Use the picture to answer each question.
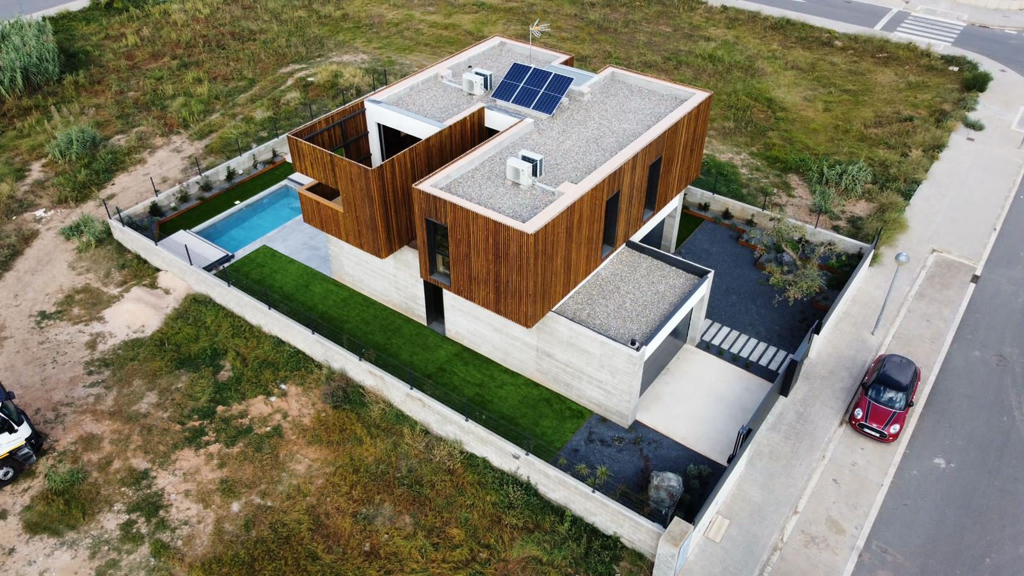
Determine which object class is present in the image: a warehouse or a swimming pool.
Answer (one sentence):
There is a swimming pool in the scene.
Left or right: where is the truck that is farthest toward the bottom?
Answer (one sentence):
You can find the truck that is farthest toward the bottom on the left side of the picture.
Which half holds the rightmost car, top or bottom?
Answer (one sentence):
The bottom half of the photo is where the rightmost car is.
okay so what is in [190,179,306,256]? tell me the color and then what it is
blue swimming pool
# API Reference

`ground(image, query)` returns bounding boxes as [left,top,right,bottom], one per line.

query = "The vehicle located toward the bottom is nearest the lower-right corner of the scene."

[846,349,931,447]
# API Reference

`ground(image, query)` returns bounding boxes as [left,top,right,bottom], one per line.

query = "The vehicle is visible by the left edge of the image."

[0,401,50,489]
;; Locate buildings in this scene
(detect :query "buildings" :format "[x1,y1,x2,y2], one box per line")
[287,35,714,428]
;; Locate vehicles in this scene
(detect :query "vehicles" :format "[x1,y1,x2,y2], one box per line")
[0,401,50,489]
[846,349,931,447]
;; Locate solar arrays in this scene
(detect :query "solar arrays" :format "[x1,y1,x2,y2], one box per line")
[492,62,572,121]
